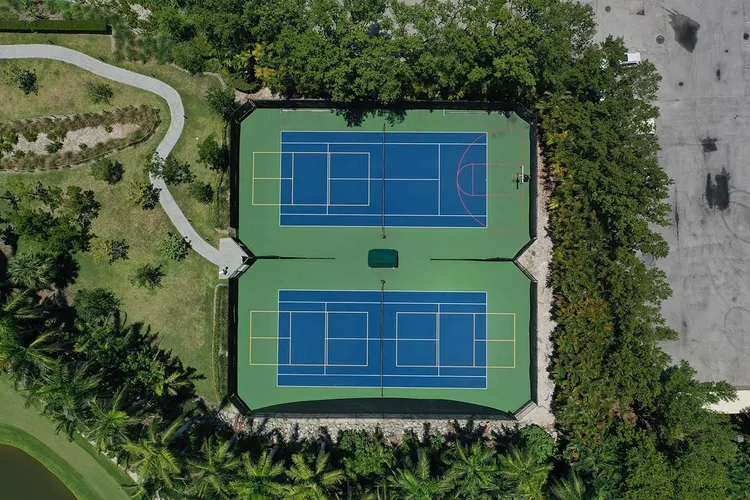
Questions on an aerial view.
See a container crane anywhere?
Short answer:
No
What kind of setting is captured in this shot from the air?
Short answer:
sports ground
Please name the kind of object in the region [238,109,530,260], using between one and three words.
tennis court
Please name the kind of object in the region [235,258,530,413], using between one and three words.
tennis court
